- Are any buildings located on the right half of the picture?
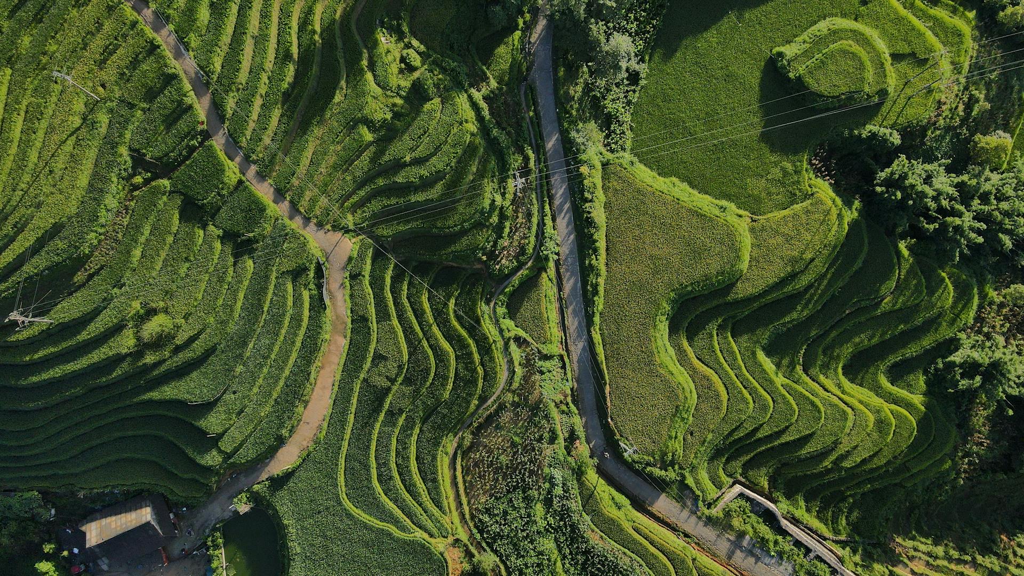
No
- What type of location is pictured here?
farmland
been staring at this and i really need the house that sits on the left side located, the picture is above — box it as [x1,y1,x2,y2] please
[79,491,188,548]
